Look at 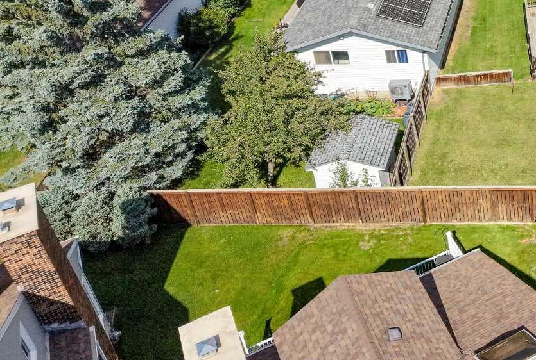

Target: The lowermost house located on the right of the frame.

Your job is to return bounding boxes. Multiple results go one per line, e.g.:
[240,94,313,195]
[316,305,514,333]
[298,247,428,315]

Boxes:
[243,234,536,360]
